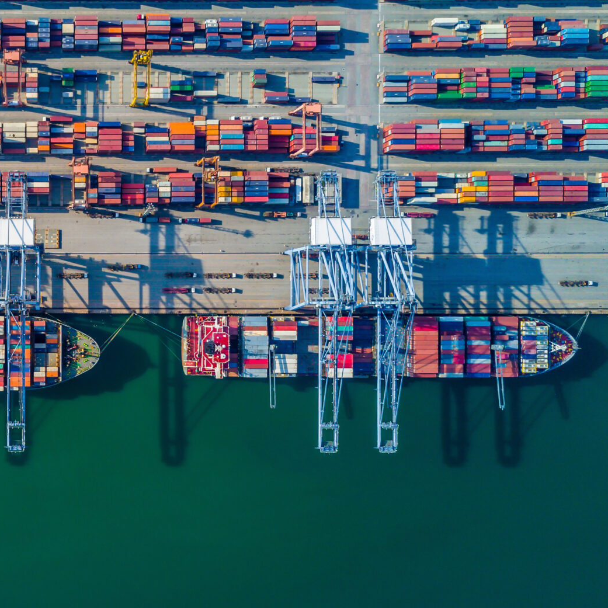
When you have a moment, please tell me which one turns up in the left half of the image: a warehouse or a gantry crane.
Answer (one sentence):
There is a gantry crane in the left half of the image.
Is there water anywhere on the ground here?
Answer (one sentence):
Yes, water can be seen from above here.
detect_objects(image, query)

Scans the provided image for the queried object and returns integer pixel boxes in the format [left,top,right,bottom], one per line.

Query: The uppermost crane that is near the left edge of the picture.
[1,42,25,105]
